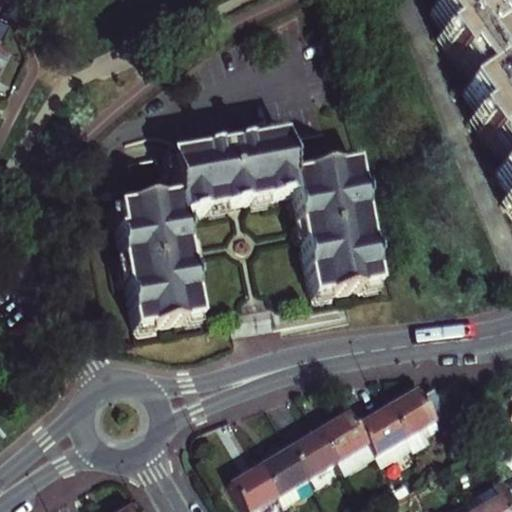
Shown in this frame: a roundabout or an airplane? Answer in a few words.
roundabout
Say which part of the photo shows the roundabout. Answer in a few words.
bottom left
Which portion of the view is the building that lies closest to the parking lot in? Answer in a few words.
center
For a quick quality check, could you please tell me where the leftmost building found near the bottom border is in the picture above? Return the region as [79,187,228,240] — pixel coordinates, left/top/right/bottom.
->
[226,460,284,512]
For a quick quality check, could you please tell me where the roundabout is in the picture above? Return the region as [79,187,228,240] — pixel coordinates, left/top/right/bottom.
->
[68,368,176,476]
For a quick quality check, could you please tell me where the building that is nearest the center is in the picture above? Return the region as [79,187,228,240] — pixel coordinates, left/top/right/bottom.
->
[114,124,390,341]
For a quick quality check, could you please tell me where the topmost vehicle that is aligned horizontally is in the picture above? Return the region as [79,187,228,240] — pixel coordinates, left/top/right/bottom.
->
[412,327,476,345]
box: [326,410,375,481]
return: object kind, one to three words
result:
house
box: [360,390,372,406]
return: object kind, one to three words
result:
vehicle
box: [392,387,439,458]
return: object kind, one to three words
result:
house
